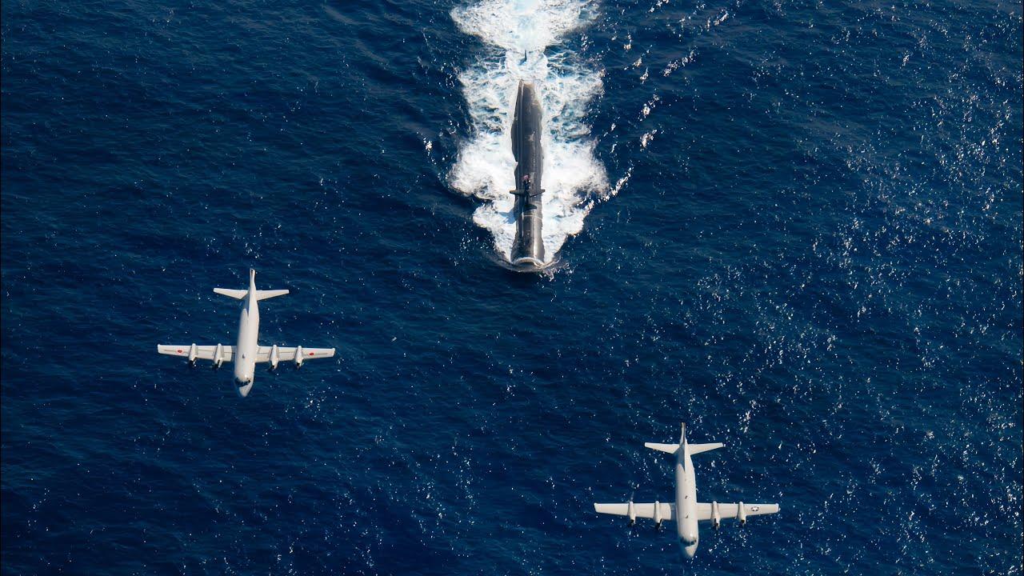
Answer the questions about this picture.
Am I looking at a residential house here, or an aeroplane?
aeroplane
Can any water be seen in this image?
Yes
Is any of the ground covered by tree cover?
No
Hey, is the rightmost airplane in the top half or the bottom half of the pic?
bottom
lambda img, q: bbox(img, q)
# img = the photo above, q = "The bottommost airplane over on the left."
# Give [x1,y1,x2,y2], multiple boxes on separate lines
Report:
[158,269,335,398]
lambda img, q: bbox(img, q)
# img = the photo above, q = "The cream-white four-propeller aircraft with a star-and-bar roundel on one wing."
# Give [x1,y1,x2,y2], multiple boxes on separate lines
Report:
[595,423,779,560]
